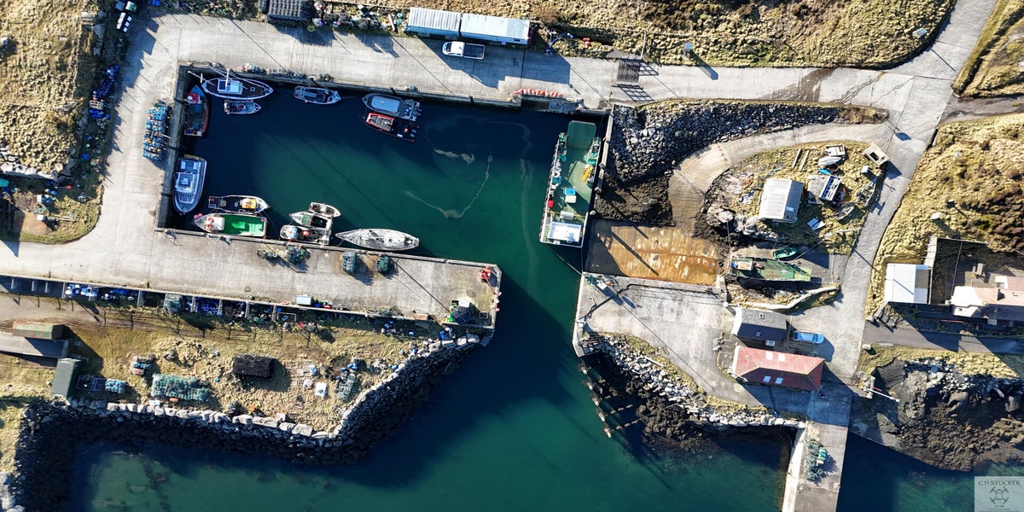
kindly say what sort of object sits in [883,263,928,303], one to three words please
shed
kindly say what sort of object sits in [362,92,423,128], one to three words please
boat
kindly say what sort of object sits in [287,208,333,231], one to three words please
boat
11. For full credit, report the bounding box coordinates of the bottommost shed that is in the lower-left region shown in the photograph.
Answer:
[51,358,86,398]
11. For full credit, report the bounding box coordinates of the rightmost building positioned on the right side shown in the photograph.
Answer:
[941,275,1024,324]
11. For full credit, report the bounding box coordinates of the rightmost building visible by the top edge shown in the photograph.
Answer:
[461,13,531,45]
